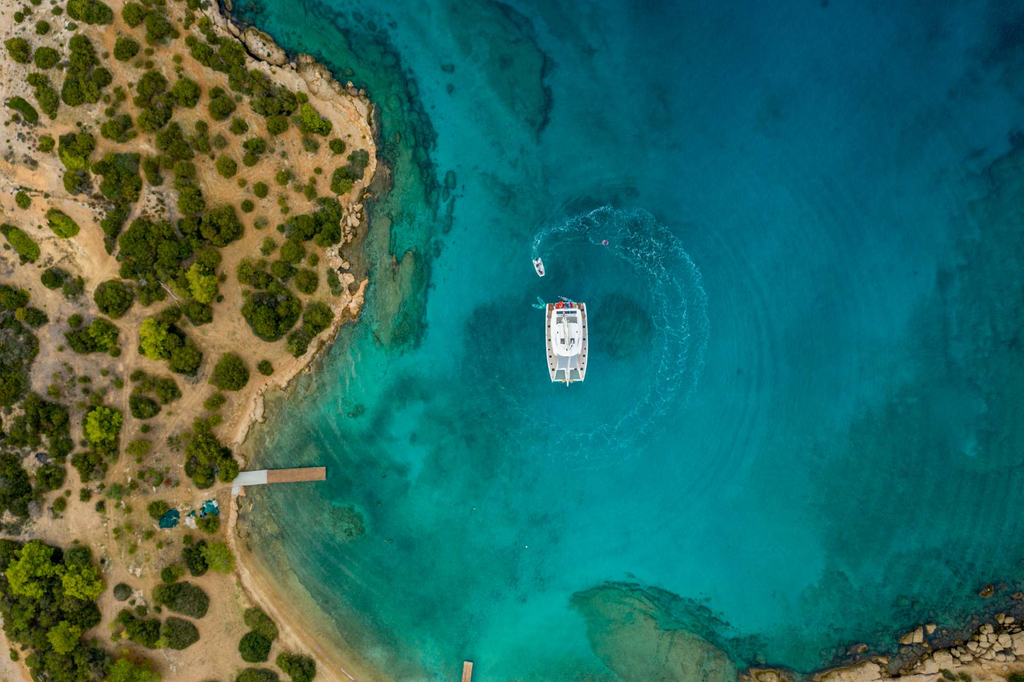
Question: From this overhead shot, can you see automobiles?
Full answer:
No, I find no automobile anywhere in the image.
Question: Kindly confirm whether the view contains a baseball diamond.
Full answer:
No, there isn't any baseball diamond down there.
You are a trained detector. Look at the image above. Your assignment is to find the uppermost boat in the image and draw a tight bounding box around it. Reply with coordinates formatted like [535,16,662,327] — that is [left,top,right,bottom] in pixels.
[533,258,545,277]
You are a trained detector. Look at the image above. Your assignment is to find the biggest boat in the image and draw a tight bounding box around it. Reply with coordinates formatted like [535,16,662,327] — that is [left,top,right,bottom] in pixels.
[546,303,588,387]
